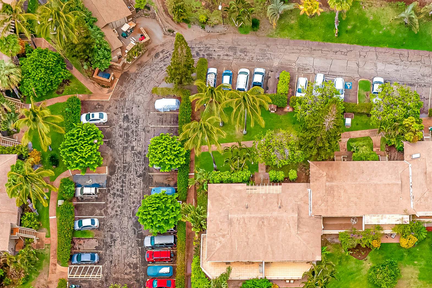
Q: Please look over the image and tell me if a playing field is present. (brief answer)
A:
No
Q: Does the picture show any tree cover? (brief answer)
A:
Yes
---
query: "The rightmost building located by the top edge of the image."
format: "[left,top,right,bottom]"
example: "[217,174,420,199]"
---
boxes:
[89,0,139,70]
